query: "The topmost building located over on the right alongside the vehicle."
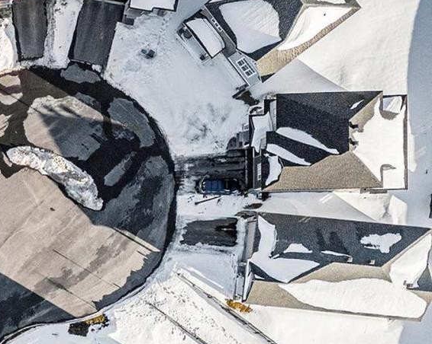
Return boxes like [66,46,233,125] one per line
[240,90,408,193]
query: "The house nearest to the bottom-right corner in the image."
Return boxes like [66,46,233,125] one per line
[233,212,432,323]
